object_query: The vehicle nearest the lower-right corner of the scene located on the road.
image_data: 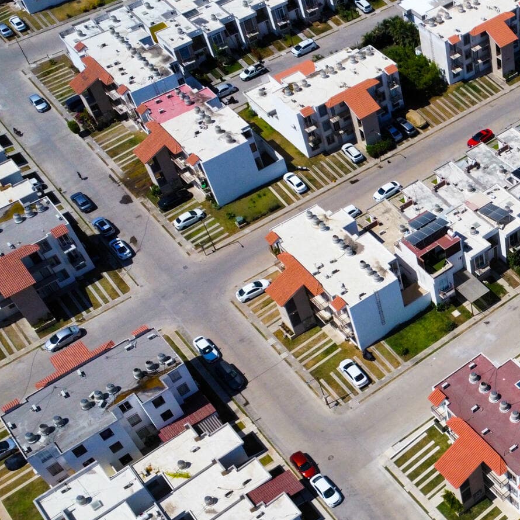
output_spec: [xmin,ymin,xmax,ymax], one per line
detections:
[310,472,345,509]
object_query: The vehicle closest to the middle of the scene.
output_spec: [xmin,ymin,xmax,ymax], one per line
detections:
[234,278,271,303]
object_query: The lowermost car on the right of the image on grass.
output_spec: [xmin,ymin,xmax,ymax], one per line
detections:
[338,359,370,388]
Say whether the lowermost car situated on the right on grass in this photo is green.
No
